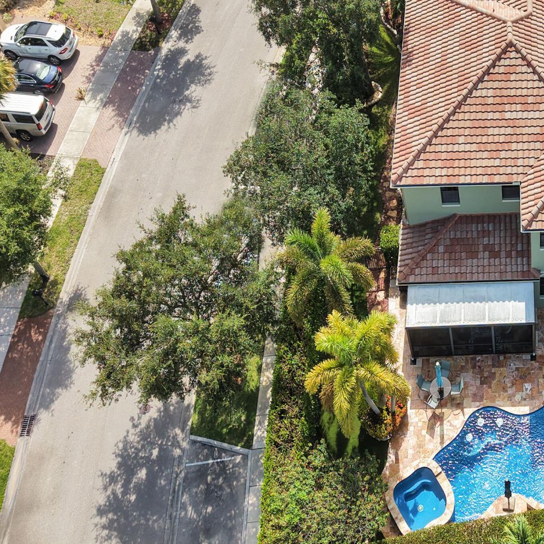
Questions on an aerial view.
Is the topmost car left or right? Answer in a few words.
left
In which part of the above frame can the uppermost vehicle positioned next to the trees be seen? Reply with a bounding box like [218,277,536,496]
[0,19,80,62]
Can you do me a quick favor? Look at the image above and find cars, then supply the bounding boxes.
[1,54,62,95]
[0,19,80,62]
[0,92,54,141]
